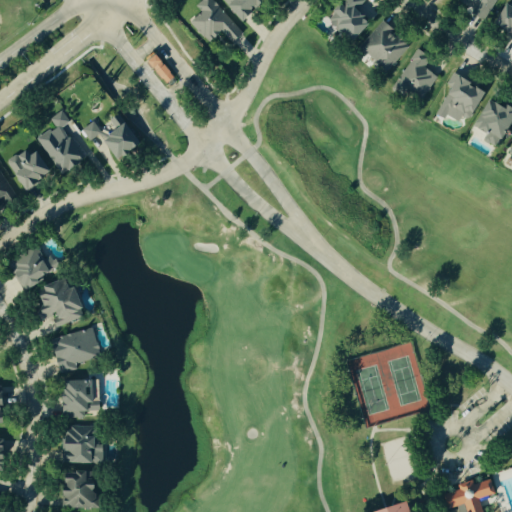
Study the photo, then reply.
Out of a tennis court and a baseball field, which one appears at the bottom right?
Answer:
tennis court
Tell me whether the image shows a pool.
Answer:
Yes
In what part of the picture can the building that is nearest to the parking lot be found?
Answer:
bottom right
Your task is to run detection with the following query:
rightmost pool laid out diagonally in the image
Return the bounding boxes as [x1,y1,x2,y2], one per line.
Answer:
[468,132,495,157]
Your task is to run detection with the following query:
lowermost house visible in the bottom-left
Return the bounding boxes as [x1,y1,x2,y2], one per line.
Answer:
[57,468,98,512]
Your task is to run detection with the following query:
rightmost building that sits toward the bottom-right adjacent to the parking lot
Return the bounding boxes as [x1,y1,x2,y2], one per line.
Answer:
[446,476,500,512]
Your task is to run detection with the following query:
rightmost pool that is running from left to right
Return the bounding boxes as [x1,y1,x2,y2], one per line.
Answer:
[434,115,465,129]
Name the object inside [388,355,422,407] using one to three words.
tennis court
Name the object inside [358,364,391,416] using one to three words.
tennis court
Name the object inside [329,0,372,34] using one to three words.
house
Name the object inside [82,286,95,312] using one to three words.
swimming pool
